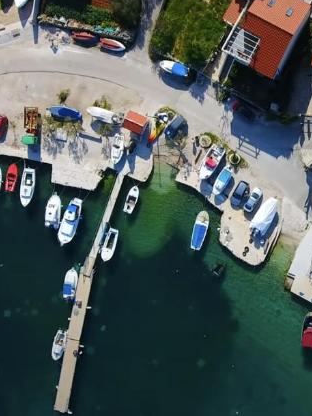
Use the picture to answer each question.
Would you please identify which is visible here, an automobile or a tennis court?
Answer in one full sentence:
It is an automobile that can be seen here.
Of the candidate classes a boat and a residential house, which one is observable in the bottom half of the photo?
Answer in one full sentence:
You can see a boat in the bottom half of the photo.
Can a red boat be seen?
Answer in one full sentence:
Yes, a red boat appears in the view.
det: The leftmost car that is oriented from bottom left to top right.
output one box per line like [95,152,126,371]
[163,112,187,139]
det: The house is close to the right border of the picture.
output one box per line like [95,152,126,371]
[237,0,311,83]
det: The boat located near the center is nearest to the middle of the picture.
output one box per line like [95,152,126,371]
[123,182,142,216]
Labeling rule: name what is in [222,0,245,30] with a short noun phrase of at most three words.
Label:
house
